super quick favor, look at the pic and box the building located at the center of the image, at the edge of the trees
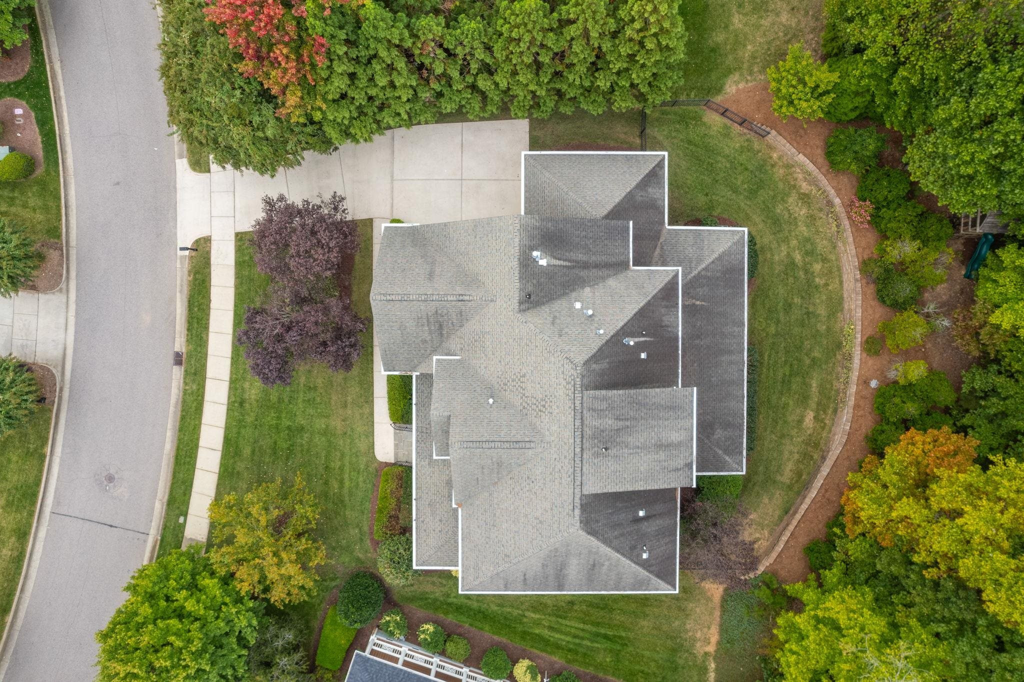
[370,150,750,596]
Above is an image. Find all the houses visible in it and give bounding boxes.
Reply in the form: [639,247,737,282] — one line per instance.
[370,150,750,596]
[344,629,518,682]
